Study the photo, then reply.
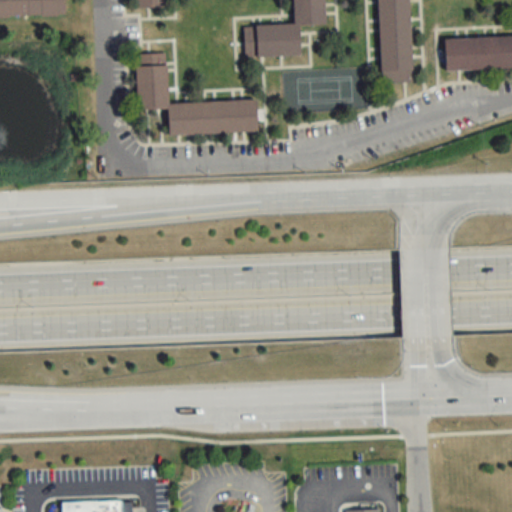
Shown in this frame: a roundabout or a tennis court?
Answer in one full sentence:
I can see a tennis court in this picture.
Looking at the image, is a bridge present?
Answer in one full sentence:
Yes, there's a bridge down there.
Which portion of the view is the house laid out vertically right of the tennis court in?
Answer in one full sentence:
The house laid out vertically right of the tennis court sits in the top right section of the image.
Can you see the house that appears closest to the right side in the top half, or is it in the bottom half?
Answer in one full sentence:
The house that appears closest to the right side is in the top half of the image.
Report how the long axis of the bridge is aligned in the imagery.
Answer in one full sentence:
From this overhead view, the bridge appears to run vertically.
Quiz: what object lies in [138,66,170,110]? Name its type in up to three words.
house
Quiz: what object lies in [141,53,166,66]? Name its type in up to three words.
house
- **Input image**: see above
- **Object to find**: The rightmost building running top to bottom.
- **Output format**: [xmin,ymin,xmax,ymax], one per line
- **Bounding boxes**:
[380,0,414,82]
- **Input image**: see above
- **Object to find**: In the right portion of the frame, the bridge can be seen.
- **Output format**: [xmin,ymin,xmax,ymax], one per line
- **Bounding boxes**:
[400,246,453,340]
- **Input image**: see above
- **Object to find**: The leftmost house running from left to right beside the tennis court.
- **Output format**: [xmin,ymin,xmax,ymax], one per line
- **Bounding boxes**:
[170,100,258,135]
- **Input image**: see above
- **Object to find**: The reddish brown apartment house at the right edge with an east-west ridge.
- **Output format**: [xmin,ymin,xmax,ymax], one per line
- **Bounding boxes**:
[445,36,512,70]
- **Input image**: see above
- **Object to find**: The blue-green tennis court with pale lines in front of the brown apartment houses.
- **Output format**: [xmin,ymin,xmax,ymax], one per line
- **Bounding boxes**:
[283,68,368,113]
